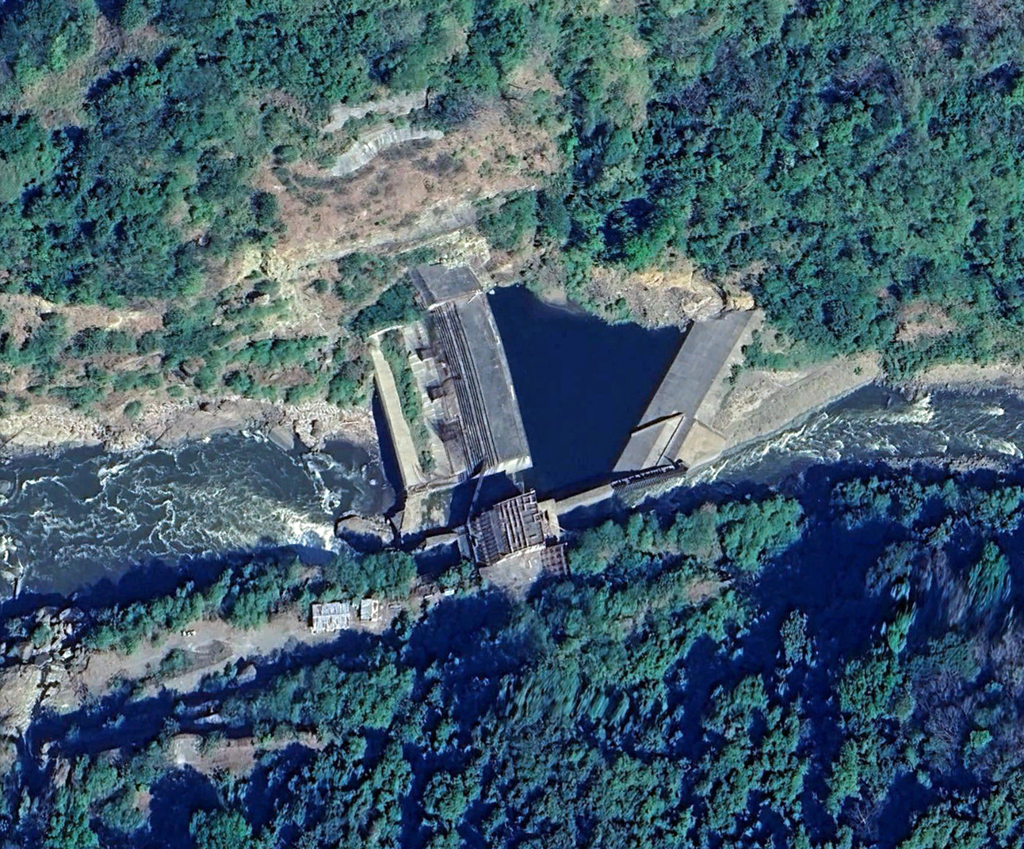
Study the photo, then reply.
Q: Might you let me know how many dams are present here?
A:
two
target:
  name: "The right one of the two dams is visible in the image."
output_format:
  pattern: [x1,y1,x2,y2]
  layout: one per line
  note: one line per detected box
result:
[612,314,749,474]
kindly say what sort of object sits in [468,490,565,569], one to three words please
building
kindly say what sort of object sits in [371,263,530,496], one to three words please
dam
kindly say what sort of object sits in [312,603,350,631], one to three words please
shed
